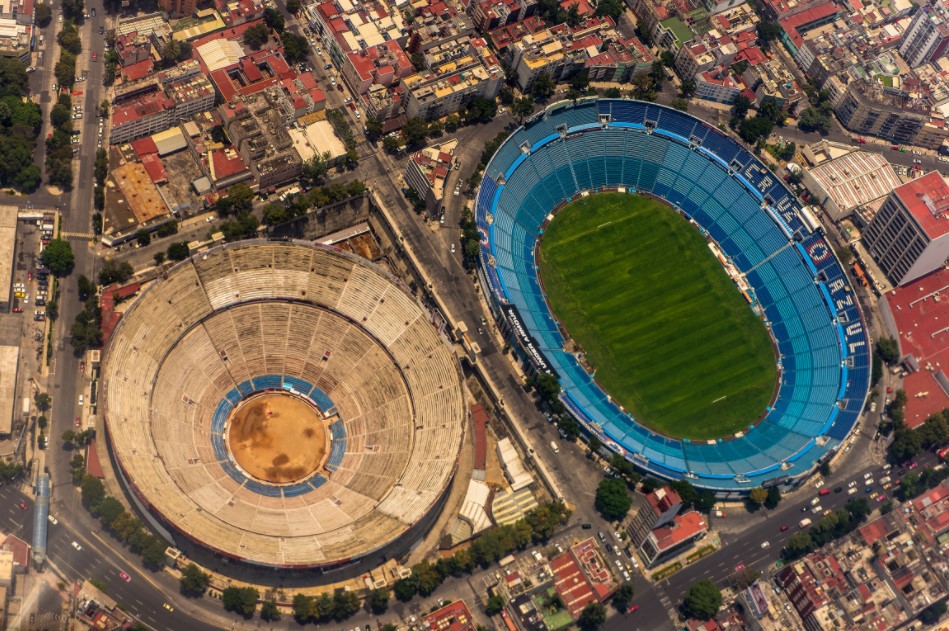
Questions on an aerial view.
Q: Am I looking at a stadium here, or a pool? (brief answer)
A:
stadium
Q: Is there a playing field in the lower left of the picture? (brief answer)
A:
No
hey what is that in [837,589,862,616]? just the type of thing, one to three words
house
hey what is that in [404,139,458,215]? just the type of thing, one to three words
building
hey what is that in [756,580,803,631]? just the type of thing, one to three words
house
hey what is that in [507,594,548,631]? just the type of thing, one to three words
shed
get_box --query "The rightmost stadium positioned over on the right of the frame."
[472,91,870,500]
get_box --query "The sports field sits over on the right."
[541,194,776,437]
